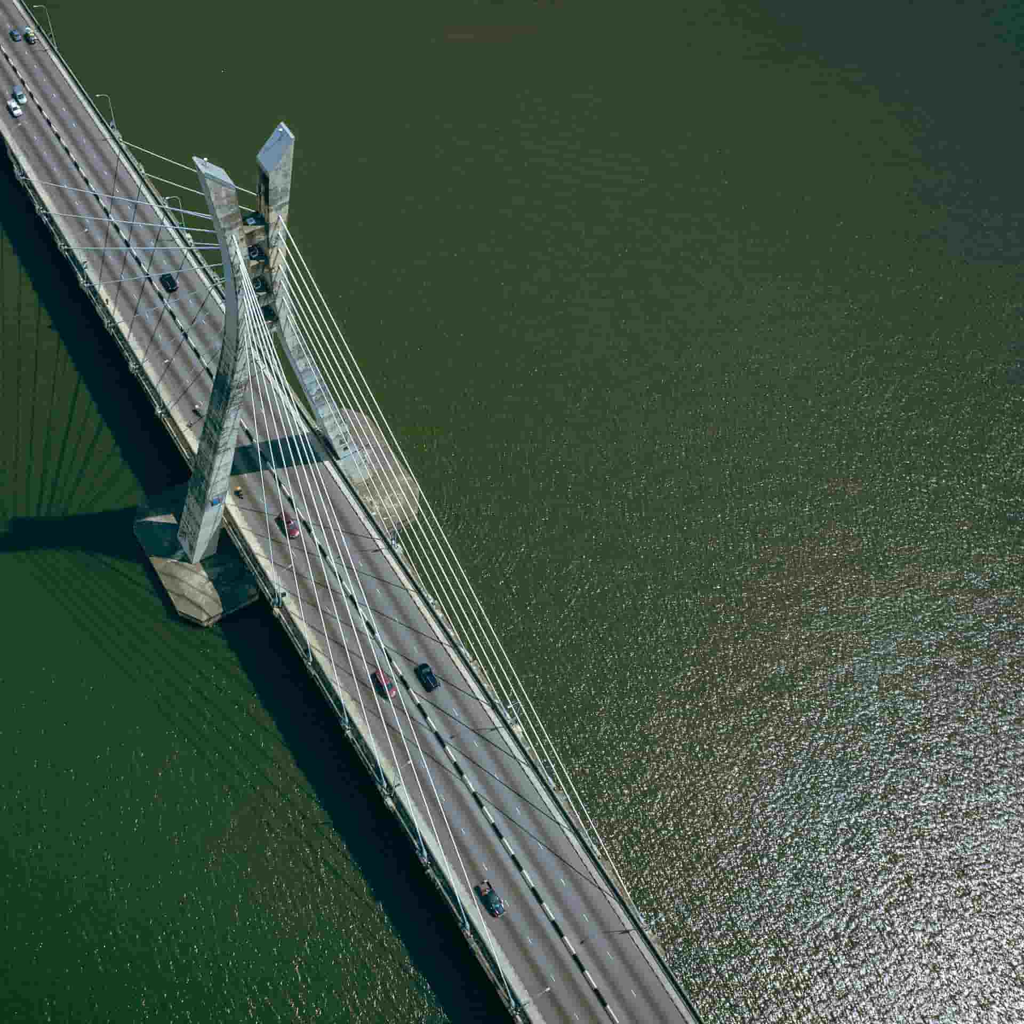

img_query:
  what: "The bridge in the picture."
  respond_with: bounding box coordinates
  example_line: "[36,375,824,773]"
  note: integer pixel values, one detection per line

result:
[0,0,714,1024]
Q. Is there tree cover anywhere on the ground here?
No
